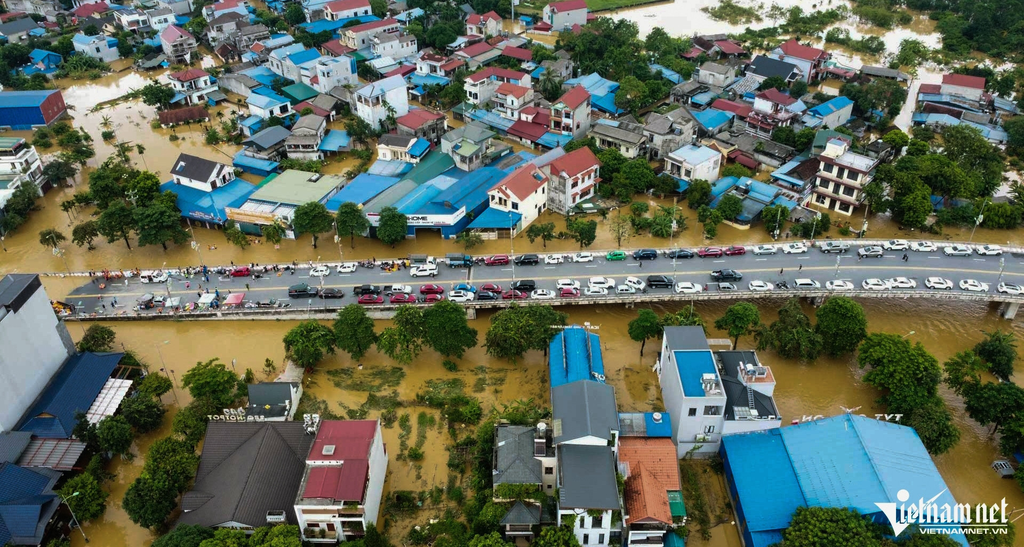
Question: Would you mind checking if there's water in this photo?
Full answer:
Yes, some water is visible.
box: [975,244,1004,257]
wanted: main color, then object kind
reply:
white vehicle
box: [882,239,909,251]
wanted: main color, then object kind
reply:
white vehicle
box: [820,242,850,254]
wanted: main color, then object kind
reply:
gray vehicle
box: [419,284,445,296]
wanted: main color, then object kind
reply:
red vehicle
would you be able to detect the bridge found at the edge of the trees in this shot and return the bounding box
[50,243,1024,319]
